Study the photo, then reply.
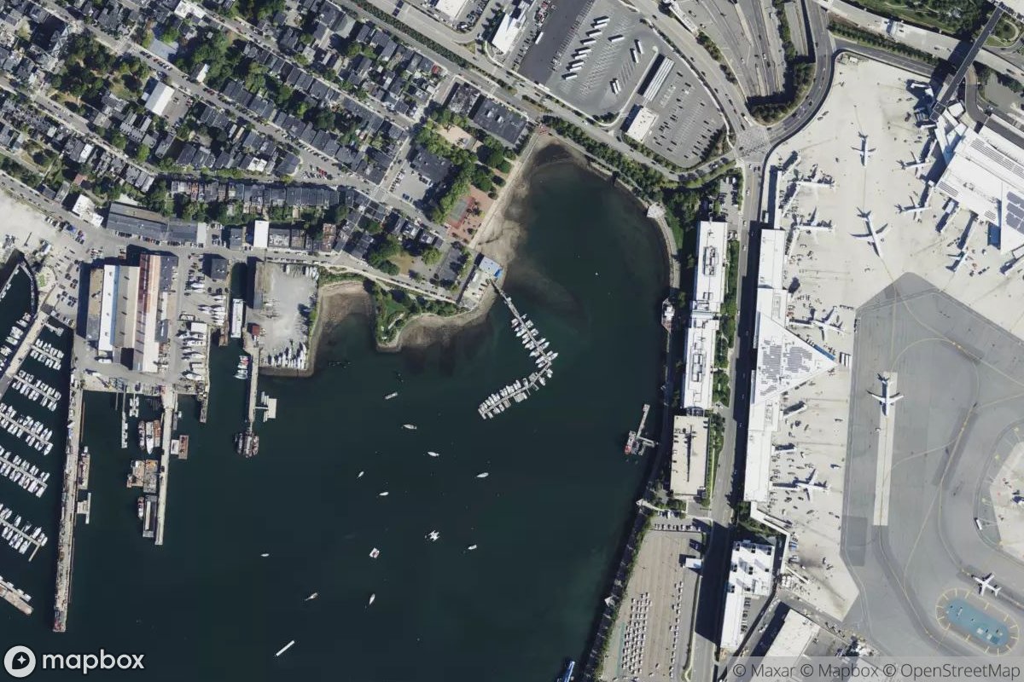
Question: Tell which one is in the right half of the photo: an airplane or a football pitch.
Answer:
airplane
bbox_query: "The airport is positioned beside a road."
[752,53,1024,682]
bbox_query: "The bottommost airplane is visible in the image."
[972,573,1004,598]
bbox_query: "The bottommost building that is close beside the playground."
[410,145,452,186]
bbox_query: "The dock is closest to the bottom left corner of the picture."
[0,587,34,614]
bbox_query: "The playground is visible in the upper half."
[442,124,480,153]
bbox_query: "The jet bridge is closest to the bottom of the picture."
[784,564,810,585]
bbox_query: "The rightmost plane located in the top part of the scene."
[951,249,970,275]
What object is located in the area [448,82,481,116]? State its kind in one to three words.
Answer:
building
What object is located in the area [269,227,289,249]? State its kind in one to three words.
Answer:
house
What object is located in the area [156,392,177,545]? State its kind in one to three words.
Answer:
pier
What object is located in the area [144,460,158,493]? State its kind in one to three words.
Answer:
ship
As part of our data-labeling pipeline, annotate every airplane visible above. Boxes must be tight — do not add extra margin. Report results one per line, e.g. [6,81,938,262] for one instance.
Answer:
[851,132,879,168]
[797,166,839,202]
[795,472,833,502]
[871,373,904,417]
[972,573,1004,598]
[795,209,839,246]
[951,249,970,275]
[896,194,932,224]
[810,311,849,345]
[851,206,894,257]
[897,151,933,180]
